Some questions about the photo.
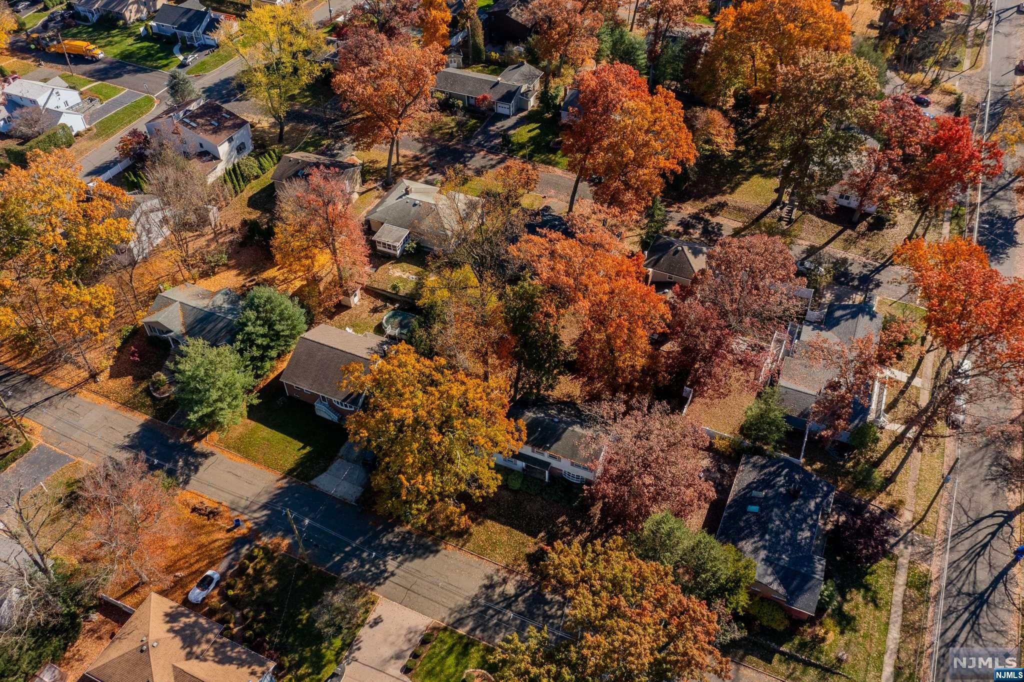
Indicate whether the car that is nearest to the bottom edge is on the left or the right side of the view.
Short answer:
left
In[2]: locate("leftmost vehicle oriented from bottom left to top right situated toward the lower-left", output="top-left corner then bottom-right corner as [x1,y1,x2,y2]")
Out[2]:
[184,566,221,605]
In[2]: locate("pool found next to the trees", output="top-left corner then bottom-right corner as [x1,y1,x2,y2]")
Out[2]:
[384,309,416,335]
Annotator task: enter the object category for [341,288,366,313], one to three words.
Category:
shed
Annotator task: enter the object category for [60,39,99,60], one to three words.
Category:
truck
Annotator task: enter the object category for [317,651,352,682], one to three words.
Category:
car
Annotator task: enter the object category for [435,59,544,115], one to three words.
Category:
house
